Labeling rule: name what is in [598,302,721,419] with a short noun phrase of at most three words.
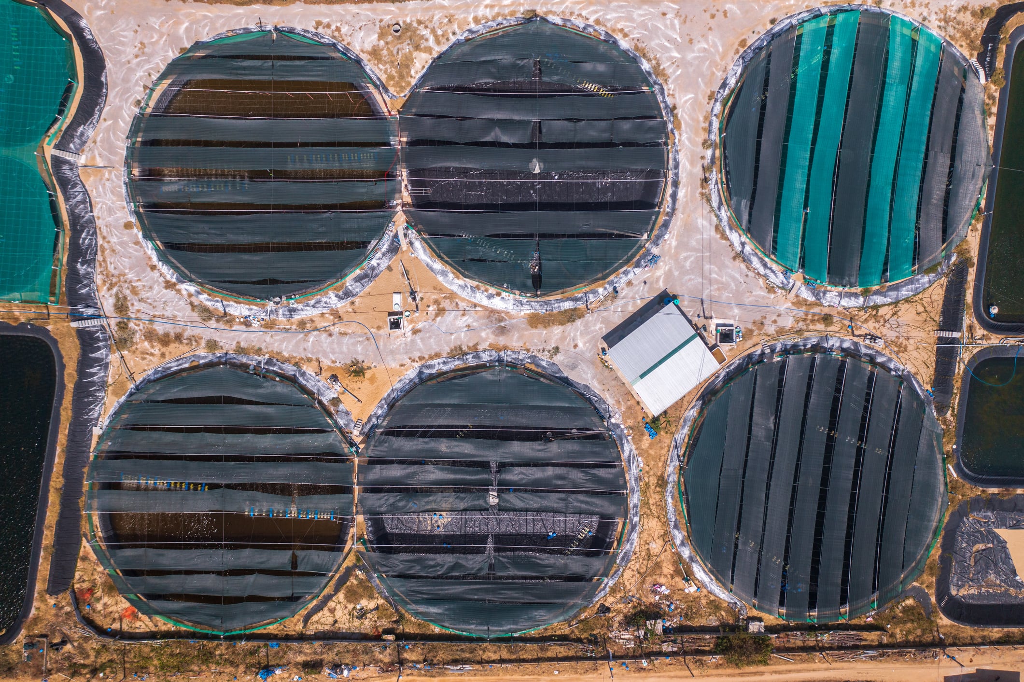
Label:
shed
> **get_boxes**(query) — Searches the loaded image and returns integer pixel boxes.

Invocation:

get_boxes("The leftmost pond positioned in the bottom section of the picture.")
[0,321,64,642]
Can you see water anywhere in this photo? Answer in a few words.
Yes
